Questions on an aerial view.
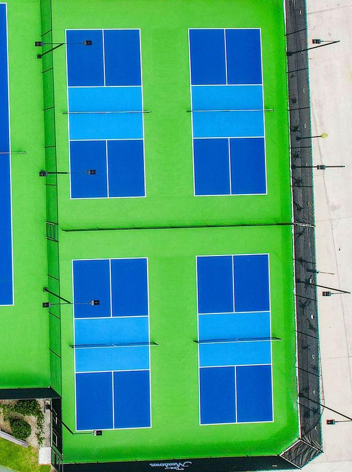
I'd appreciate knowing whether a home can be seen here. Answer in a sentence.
No, there appears to be no home in this shot.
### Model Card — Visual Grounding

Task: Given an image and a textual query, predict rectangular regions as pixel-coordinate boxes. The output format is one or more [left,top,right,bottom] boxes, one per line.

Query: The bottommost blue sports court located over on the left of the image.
[72,258,153,431]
